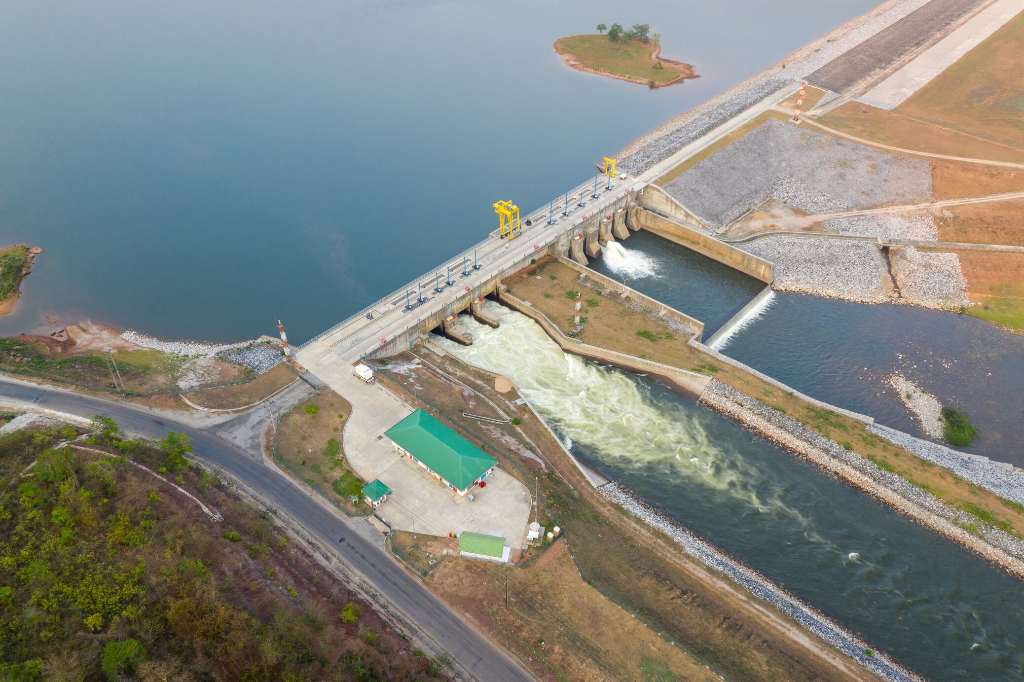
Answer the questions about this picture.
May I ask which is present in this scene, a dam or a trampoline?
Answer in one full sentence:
This aerial view contains a dam.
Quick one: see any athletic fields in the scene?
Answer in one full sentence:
No, I find no athletic field anywhere in the image.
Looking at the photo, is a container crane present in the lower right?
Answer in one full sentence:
No, no container crane appears in the lower right.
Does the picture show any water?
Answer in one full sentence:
Yes, water shows up in the scene.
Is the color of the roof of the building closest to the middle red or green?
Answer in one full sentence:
The color of the roof of the building closest to the middle is green.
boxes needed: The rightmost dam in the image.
[704,284,781,351]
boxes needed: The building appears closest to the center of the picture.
[383,409,498,500]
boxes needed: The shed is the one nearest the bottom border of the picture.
[457,531,514,570]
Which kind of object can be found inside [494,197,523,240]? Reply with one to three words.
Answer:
container crane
